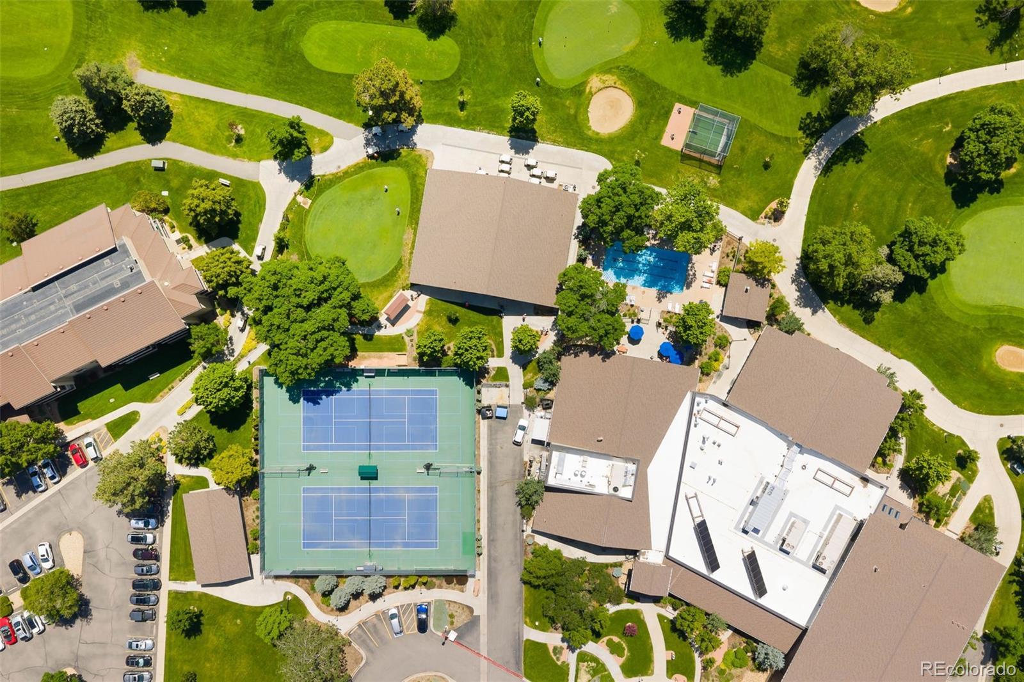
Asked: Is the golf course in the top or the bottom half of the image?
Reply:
top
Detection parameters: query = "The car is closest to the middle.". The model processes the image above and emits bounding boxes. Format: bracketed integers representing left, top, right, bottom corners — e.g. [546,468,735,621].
[512,418,528,447]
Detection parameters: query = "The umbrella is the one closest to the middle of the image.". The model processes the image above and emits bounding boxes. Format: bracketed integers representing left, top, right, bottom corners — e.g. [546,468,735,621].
[629,325,643,339]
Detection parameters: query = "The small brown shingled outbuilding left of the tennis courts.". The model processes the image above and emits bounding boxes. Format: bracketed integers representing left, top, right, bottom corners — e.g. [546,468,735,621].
[184,488,254,585]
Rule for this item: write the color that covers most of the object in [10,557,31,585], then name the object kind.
black car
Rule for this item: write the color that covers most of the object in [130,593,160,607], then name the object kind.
gray car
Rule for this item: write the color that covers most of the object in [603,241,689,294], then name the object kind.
blue swimming pool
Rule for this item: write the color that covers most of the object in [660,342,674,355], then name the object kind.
blue umbrella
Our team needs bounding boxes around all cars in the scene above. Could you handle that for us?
[388,607,404,637]
[23,549,44,576]
[38,541,56,569]
[12,613,32,642]
[125,654,154,669]
[134,563,161,576]
[36,610,55,628]
[416,603,429,633]
[125,670,153,682]
[512,418,528,447]
[127,607,158,622]
[130,517,160,530]
[71,442,90,469]
[10,557,31,585]
[0,616,16,644]
[24,610,44,636]
[132,578,163,592]
[130,593,160,607]
[85,435,104,459]
[127,532,157,546]
[44,458,64,485]
[127,638,156,652]
[133,502,162,515]
[133,547,161,561]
